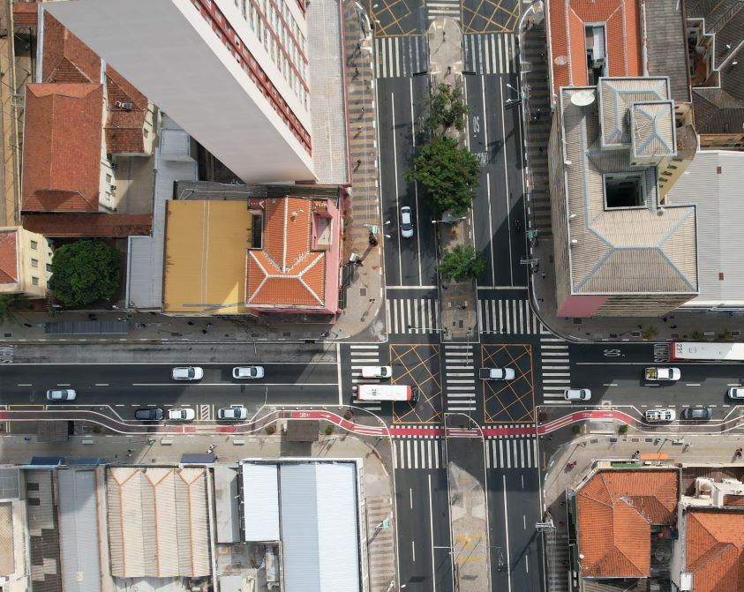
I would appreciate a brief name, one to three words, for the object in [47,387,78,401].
vehicle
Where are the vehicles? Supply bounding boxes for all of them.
[358,382,420,403]
[726,387,744,399]
[683,407,712,420]
[172,366,205,380]
[135,407,165,420]
[645,407,675,422]
[563,387,591,401]
[479,366,515,380]
[644,367,679,381]
[218,407,249,420]
[167,407,196,420]
[47,387,78,401]
[233,366,265,379]
[399,206,413,238]
[362,365,393,379]
[667,342,744,361]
